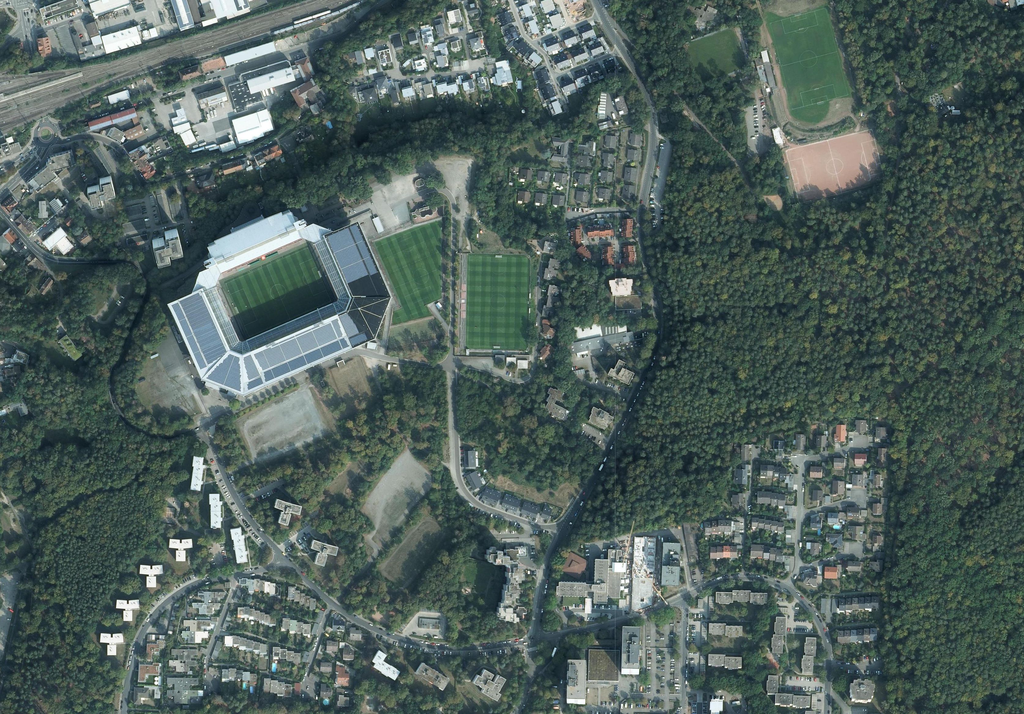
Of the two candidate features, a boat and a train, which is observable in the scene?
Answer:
train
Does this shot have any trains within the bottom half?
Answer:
No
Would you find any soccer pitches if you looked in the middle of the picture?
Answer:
Yes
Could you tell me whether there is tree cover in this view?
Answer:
Yes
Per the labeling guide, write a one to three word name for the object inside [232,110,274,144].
building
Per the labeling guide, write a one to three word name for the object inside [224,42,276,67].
shed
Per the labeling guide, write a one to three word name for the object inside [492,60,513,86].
house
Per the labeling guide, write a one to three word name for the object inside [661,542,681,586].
building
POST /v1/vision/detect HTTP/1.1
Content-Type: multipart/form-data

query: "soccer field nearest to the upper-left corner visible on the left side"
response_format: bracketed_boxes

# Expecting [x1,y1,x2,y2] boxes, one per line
[222,246,334,339]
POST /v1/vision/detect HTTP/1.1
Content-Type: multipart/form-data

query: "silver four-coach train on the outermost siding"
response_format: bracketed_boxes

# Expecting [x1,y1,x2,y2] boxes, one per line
[273,1,362,34]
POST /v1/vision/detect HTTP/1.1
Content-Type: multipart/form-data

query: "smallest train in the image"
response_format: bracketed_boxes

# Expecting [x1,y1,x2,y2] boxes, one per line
[295,11,331,24]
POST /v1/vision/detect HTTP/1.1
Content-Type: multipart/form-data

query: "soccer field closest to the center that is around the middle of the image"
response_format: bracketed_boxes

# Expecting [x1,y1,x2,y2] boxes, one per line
[465,254,530,350]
